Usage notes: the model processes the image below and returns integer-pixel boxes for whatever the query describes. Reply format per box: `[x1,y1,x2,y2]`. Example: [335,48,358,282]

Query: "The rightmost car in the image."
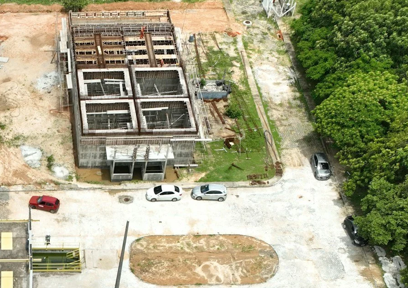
[343,213,370,244]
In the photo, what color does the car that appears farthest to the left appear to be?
red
